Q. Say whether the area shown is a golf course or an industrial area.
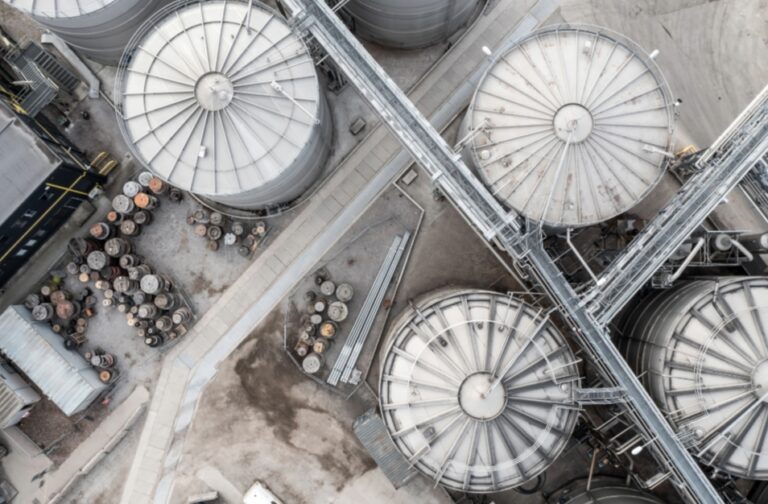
industrial area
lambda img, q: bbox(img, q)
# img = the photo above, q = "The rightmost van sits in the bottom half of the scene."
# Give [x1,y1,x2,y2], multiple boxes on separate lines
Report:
[245,473,299,504]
